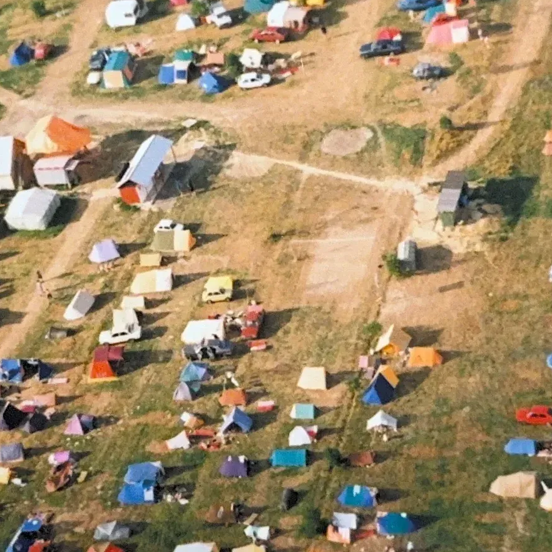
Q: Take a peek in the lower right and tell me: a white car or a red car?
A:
red car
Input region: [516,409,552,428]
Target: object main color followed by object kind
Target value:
red car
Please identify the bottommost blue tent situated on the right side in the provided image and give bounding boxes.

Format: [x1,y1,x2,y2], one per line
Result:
[374,511,422,536]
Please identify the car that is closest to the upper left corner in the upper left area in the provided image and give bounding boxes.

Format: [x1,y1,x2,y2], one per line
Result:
[36,33,55,61]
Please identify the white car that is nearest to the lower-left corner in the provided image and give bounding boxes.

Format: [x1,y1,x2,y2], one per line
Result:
[98,322,142,345]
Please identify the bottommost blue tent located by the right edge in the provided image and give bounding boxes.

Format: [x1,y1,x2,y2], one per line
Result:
[503,437,536,458]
